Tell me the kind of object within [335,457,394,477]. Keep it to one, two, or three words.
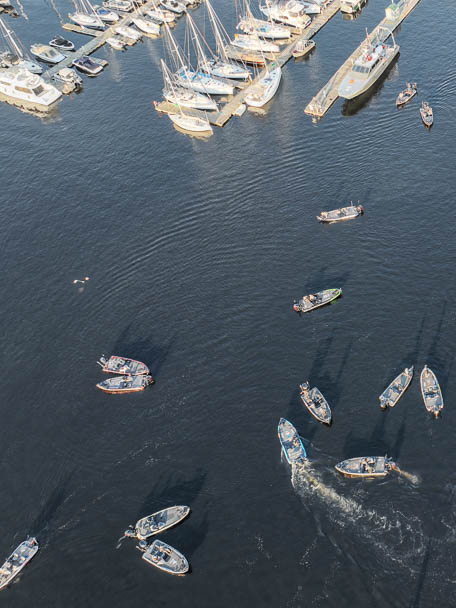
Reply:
boat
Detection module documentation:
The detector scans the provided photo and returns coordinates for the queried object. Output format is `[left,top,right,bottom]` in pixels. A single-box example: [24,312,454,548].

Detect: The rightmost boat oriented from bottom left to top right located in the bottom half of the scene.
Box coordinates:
[378,365,414,408]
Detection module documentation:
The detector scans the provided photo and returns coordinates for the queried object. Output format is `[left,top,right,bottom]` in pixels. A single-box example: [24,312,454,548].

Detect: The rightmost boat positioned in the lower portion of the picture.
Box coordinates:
[420,367,444,415]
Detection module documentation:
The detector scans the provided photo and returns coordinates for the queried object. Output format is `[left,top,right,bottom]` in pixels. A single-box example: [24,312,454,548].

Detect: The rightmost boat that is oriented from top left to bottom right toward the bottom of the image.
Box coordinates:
[301,386,332,423]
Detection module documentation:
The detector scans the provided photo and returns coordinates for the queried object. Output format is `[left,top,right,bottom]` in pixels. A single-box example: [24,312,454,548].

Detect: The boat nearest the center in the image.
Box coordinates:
[295,289,342,316]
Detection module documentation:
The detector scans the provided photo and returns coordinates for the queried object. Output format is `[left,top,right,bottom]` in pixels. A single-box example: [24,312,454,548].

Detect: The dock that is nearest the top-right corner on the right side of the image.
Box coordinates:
[305,0,418,114]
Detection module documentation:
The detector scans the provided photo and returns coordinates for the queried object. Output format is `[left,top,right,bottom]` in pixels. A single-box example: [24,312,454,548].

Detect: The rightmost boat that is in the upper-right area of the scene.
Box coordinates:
[419,100,434,127]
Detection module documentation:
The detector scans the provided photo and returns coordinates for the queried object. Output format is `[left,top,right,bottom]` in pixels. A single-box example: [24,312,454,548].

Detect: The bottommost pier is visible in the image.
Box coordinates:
[152,103,217,124]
